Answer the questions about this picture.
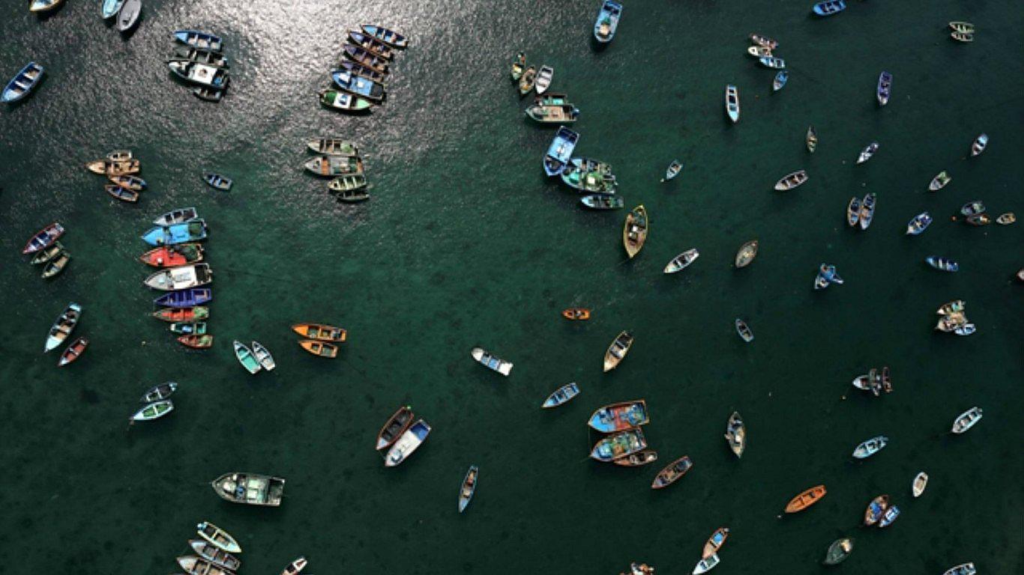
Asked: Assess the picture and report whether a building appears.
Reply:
No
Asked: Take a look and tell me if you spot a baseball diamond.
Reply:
No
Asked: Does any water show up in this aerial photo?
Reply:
Yes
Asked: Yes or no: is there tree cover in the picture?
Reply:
No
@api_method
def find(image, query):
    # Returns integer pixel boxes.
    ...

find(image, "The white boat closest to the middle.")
[471,347,514,376]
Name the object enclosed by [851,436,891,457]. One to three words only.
boat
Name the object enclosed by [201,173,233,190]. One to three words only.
boat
